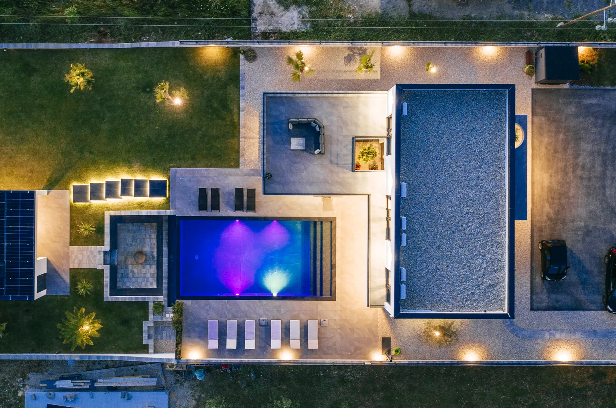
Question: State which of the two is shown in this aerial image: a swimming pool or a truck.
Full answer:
I can see a swimming pool in this picture.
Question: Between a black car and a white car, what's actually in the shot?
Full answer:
I can see a black car in this picture.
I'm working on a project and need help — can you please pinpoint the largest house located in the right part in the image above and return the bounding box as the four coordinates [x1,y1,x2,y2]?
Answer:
[262,83,528,320]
